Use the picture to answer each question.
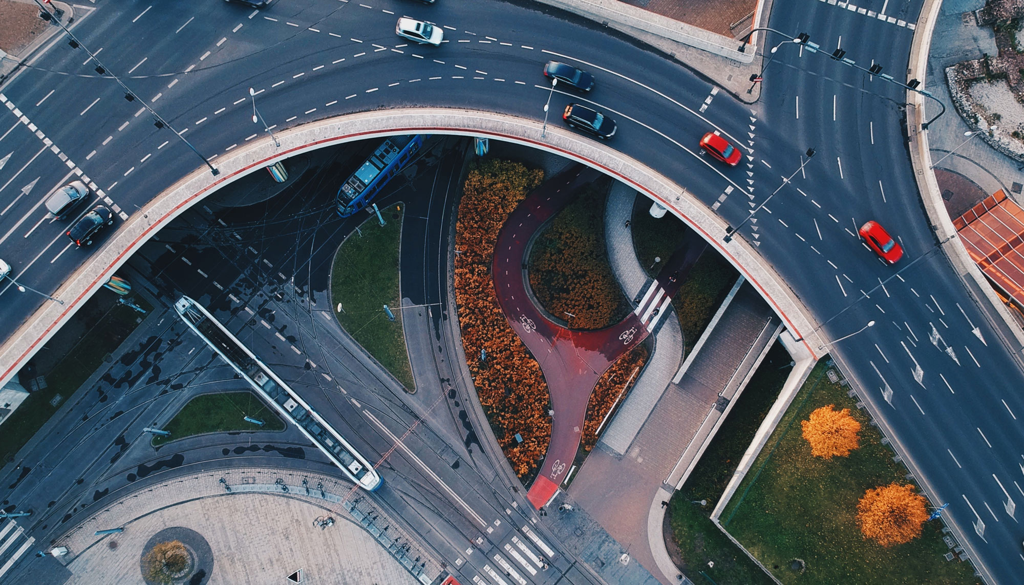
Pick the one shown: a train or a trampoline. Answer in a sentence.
This aerial view contains a train.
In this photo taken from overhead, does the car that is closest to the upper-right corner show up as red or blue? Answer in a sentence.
The car that is closest to the upper-right corner looks red in the image.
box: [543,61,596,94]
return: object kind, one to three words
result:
car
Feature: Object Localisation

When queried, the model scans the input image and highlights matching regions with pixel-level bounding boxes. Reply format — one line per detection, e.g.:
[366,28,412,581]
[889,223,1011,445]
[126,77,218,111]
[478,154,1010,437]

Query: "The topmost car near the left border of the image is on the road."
[42,178,92,219]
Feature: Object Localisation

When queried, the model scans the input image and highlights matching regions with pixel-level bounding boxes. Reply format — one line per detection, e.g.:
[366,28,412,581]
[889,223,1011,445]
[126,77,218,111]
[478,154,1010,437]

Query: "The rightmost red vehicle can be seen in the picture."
[856,220,905,266]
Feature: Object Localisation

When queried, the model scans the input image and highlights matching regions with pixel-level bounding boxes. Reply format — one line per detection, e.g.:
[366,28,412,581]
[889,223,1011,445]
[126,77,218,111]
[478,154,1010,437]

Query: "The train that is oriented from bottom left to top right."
[330,137,431,218]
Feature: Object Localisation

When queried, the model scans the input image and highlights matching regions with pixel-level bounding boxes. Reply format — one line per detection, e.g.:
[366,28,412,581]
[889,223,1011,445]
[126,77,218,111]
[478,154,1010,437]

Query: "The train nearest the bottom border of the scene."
[171,294,389,492]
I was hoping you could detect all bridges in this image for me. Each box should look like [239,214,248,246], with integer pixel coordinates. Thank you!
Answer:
[0,30,833,396]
